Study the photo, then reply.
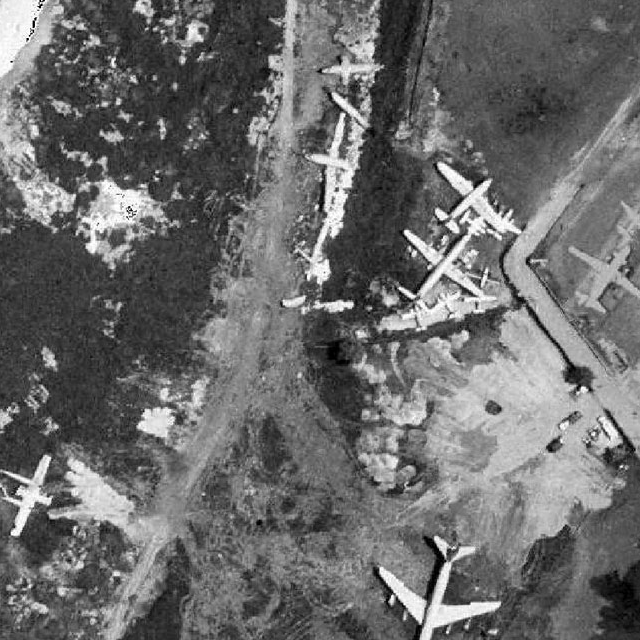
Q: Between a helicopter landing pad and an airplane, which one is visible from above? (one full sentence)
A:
I can see an airplane in this picture.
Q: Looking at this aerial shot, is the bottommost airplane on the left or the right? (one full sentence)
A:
The bottommost airplane is on the right side of the image.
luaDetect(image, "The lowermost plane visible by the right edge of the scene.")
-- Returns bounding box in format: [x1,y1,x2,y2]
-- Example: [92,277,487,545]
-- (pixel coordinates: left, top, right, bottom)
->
[569,244,640,314]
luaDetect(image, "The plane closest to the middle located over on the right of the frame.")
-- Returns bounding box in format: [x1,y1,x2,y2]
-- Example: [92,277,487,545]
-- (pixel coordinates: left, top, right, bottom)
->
[397,229,485,300]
